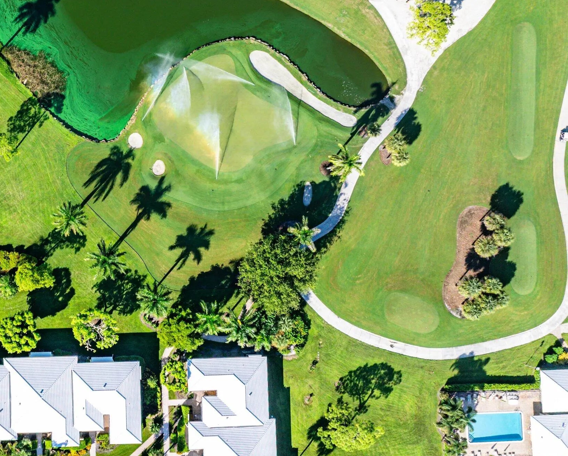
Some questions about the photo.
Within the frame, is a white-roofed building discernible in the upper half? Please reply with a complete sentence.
No, I see no white-roofed building in the upper half.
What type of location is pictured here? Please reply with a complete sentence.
This looks like a golf course.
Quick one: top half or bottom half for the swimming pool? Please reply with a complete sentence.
The swimming pool sits in the bottom half of the picture.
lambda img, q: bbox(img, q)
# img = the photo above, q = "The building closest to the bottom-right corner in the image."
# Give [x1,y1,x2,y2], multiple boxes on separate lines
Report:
[524,413,568,456]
